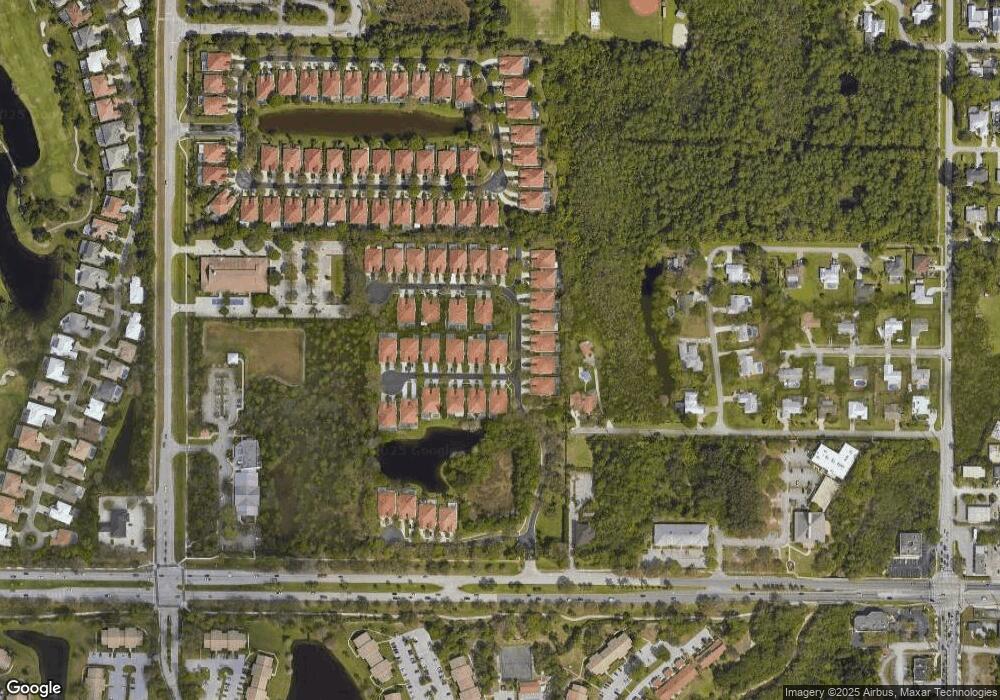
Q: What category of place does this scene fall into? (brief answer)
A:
residential area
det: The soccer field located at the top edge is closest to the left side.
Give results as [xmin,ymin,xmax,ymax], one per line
[509,0,575,43]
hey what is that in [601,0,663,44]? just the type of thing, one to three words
baseball field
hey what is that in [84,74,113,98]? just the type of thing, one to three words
house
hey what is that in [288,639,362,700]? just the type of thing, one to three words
pond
